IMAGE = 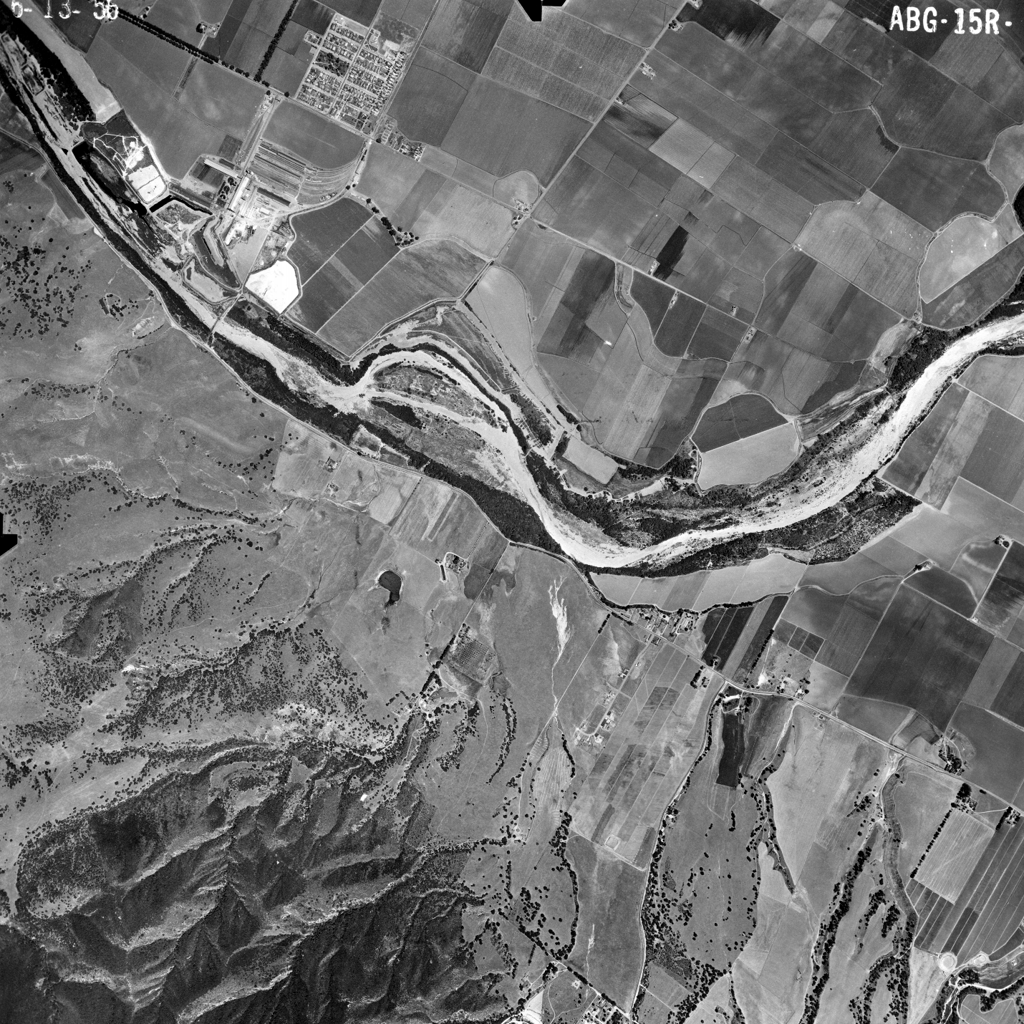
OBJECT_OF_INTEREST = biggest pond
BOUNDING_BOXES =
[246,261,298,313]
